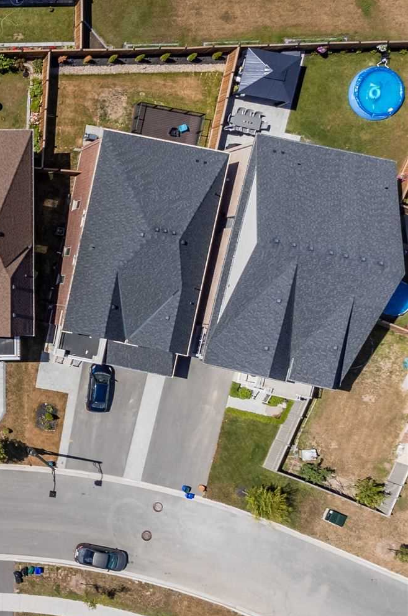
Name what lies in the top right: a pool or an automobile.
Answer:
pool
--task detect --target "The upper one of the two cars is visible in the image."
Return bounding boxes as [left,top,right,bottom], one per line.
[86,362,114,413]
